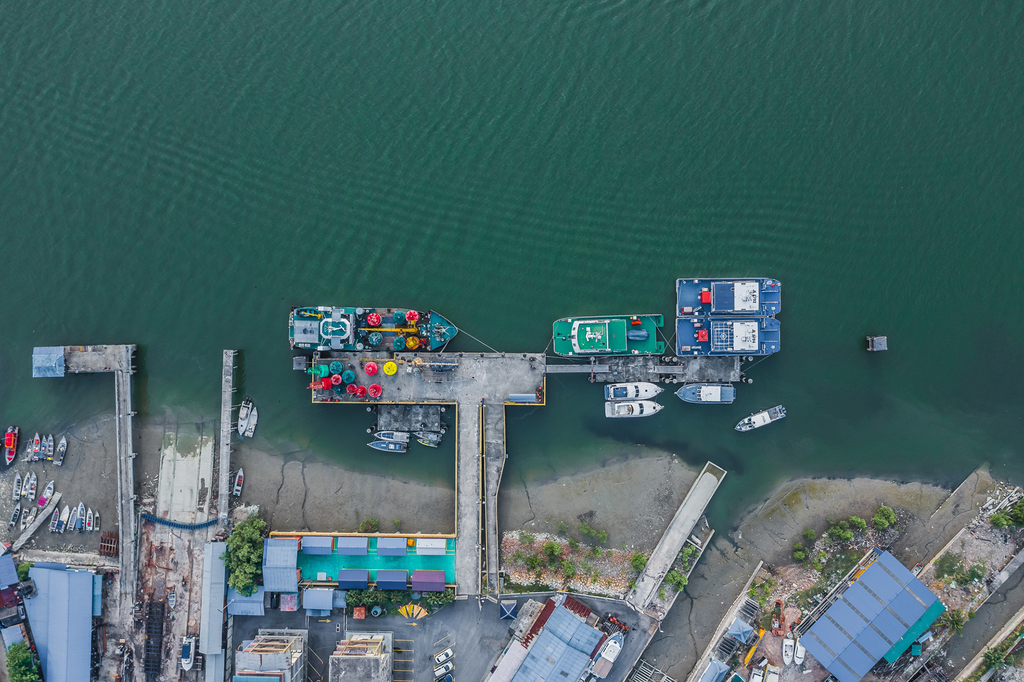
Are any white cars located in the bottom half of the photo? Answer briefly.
Yes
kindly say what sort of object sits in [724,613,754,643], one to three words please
gazebo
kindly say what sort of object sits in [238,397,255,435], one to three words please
boat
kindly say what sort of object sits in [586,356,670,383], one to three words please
pier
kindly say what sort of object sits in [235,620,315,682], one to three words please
building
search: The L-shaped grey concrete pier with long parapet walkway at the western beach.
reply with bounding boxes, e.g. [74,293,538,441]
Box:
[33,344,149,627]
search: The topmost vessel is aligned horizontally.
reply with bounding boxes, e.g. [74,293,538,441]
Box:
[676,278,781,317]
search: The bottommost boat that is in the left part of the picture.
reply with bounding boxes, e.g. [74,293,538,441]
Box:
[178,633,196,672]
